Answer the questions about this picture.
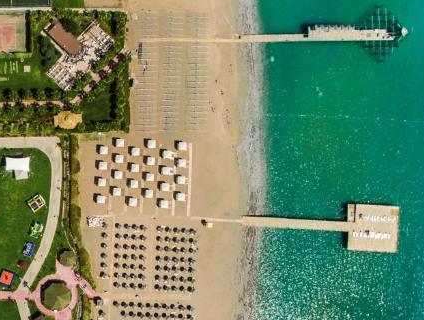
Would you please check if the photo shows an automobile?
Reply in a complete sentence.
No, I can't see a single automobile in this photo.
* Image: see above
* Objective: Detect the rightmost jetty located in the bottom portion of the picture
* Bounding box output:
[229,203,399,252]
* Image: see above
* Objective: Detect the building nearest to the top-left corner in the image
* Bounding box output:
[46,20,82,58]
